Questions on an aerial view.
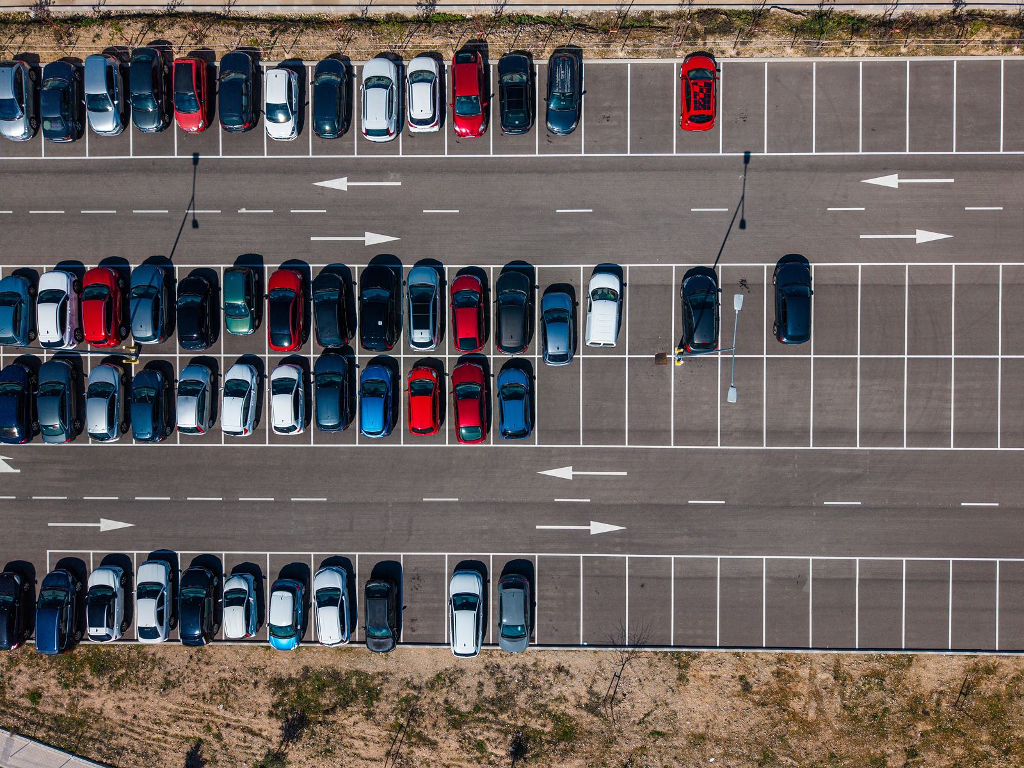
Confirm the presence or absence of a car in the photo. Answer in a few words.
Yes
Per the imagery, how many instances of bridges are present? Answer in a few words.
0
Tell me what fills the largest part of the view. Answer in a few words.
paved ground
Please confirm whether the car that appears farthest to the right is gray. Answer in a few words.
No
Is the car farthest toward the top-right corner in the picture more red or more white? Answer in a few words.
red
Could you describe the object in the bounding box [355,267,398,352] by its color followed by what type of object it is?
black car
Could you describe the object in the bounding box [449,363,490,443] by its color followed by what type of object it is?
red car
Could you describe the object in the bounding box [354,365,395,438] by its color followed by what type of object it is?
blue car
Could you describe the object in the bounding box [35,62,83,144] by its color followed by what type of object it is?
black car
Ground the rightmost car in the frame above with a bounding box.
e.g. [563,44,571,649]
[772,263,818,345]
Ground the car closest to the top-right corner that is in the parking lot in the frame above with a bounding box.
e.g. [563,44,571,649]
[679,56,722,133]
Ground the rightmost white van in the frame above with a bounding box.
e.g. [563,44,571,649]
[584,274,625,348]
